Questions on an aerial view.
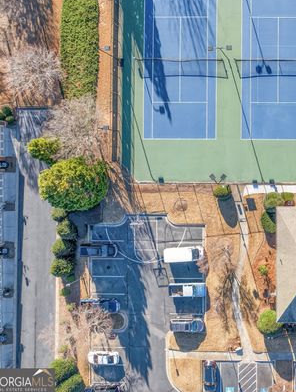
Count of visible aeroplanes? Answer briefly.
0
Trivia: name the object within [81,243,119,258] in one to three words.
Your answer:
vehicle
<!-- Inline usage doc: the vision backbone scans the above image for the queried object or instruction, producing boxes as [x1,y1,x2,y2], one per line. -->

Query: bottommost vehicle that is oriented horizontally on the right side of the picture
[170,316,205,333]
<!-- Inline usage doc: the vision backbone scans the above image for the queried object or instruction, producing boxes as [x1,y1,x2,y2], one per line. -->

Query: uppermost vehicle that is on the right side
[160,246,205,263]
